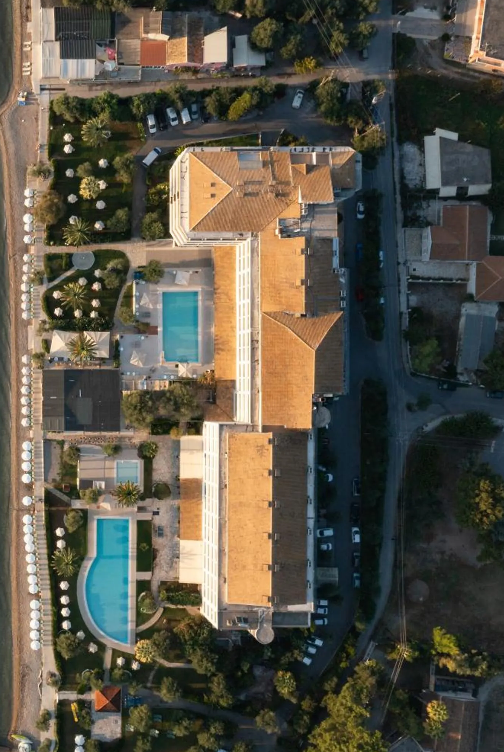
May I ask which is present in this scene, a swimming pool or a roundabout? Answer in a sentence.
Visible in the photo is a swimming pool.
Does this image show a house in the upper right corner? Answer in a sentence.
Yes, in the upper right corner there is a house.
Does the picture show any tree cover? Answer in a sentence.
Yes, there's tree cover in this view.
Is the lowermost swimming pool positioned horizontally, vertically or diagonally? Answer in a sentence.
Seen from above, the lowermost swimming pool lies vertically.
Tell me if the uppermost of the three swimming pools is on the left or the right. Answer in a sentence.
The uppermost of the three swimming pools is on the left side of the image.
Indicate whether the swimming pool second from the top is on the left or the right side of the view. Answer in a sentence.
You can find the swimming pool second from the top on the left side of the picture.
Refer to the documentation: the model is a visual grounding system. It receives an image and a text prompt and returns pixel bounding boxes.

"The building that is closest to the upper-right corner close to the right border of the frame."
[462,0,504,69]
